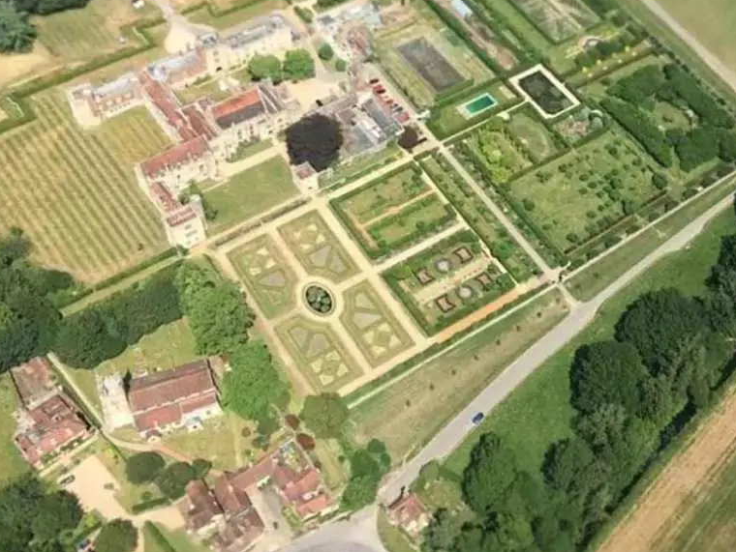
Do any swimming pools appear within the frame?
Yes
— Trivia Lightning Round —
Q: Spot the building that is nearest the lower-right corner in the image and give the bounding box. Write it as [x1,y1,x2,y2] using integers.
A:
[380,482,421,533]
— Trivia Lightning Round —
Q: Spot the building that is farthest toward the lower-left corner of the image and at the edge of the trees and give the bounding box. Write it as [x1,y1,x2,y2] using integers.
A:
[14,381,104,471]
